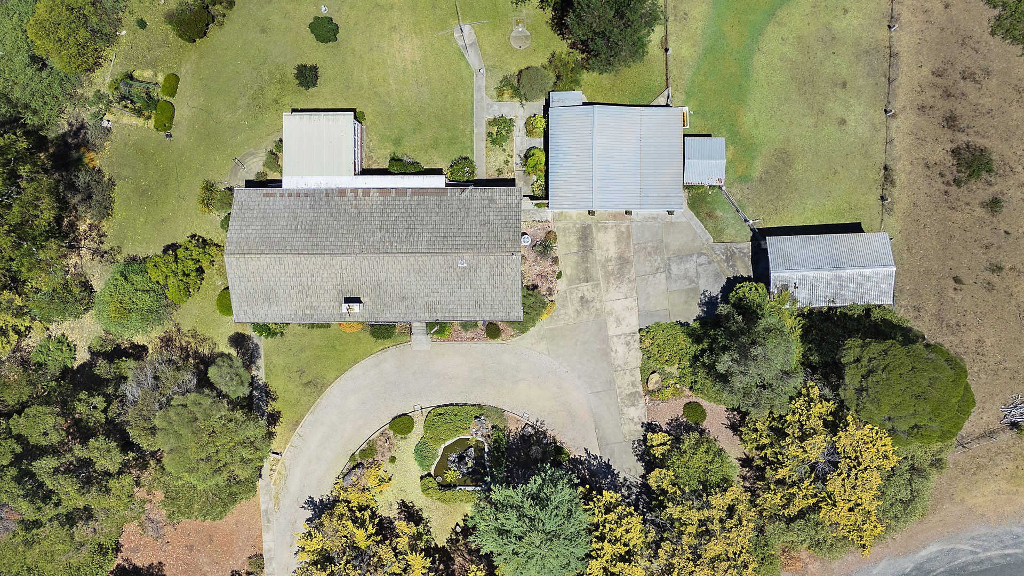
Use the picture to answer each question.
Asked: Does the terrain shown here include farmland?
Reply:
Yes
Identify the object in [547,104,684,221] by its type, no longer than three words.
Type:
building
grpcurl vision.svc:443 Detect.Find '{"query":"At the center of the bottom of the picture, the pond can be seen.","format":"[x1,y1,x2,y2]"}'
[433,435,490,488]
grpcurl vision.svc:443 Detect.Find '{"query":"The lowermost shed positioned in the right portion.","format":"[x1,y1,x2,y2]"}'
[754,232,897,308]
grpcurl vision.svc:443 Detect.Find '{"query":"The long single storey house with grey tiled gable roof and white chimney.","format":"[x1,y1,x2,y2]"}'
[223,111,523,324]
